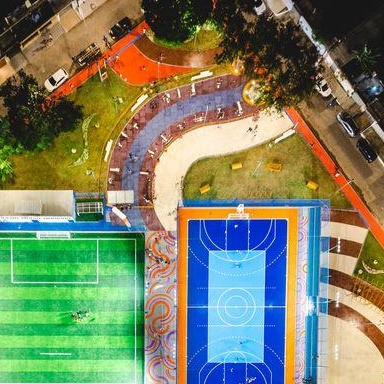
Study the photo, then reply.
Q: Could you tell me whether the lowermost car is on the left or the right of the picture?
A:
right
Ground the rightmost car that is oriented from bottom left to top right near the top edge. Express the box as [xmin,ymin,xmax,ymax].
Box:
[104,14,135,42]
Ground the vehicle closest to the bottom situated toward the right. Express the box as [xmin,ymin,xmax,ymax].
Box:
[354,136,378,163]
